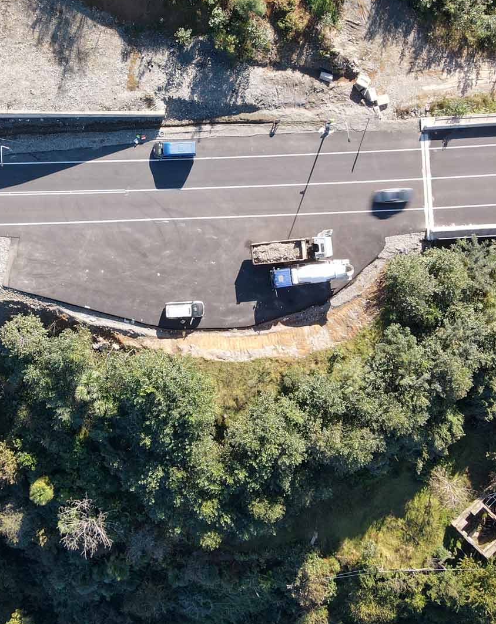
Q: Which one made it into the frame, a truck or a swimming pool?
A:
truck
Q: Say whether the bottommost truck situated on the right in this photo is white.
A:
Yes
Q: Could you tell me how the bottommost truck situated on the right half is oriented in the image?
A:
from left to right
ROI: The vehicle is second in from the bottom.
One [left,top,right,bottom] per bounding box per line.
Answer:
[268,259,355,292]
